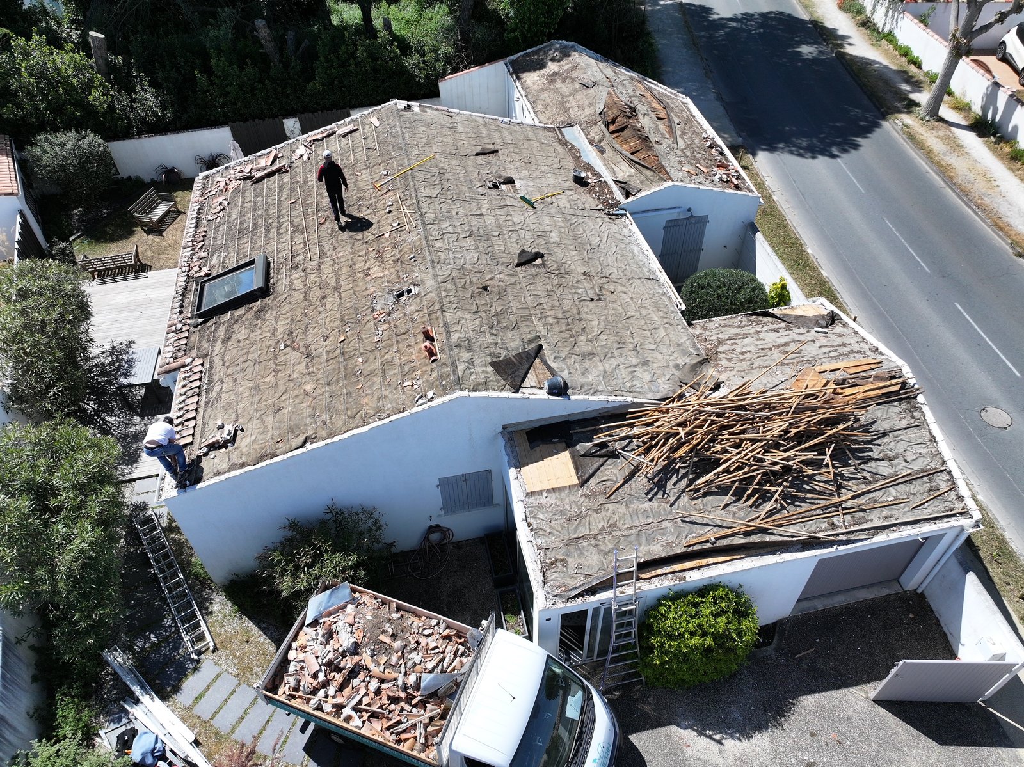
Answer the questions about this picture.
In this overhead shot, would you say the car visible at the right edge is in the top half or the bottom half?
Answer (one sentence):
It is in the top half that the car visible at the right edge appears.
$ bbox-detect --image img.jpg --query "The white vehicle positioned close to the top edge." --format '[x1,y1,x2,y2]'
[997,35,1024,84]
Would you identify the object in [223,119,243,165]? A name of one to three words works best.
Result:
umbrella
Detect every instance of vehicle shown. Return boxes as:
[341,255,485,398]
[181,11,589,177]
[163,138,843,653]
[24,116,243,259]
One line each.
[253,577,627,767]
[997,35,1024,84]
